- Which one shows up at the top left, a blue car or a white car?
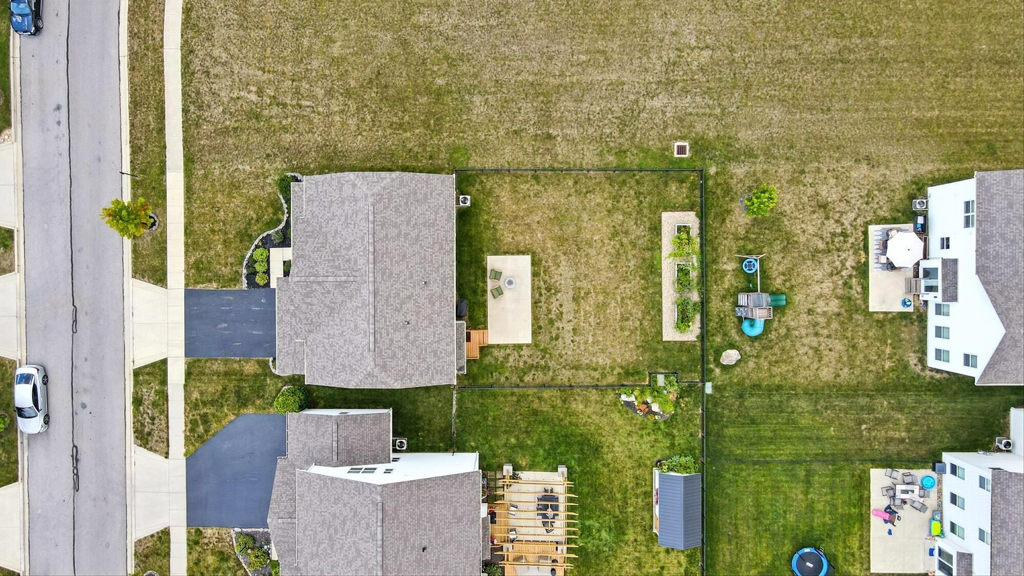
blue car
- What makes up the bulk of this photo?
grass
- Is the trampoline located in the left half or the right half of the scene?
right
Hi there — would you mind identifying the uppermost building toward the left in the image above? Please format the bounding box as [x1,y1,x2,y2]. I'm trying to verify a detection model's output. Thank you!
[274,171,468,388]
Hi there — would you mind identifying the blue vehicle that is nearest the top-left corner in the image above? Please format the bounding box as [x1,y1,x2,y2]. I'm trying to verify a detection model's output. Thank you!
[2,0,44,36]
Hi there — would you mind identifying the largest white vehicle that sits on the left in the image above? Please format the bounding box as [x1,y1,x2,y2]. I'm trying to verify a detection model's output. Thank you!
[8,365,49,435]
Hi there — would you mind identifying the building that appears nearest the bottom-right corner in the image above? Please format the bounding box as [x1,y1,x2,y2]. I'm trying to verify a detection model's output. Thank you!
[936,407,1024,576]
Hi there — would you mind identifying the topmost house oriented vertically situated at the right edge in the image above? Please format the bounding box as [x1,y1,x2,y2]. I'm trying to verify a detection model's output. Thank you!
[920,169,1024,386]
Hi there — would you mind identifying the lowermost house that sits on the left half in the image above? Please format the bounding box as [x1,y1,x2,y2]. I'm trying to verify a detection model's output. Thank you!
[268,408,492,576]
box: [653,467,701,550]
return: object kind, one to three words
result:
shed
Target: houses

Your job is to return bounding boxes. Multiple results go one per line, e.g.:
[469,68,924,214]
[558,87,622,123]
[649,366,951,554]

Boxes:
[274,171,468,388]
[268,408,492,576]
[920,169,1024,386]
[936,407,1024,576]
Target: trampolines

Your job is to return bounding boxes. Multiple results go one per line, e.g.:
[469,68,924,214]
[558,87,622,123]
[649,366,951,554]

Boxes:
[786,540,836,576]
